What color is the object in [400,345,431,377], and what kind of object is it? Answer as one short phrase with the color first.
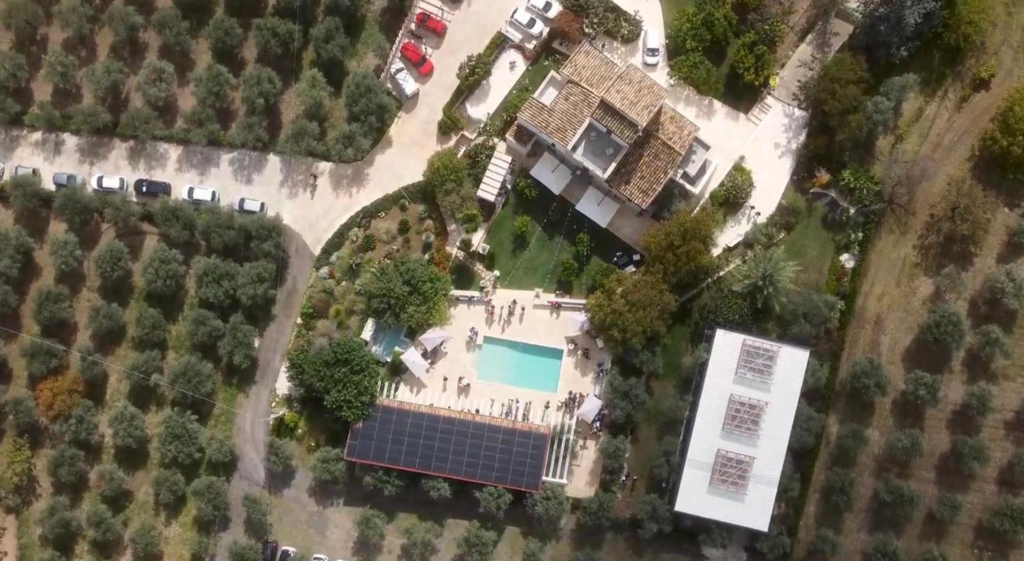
white umbrella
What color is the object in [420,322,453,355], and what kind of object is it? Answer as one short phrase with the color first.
white umbrella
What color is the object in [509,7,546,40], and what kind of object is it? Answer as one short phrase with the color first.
white car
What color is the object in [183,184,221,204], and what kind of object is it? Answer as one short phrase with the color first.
white car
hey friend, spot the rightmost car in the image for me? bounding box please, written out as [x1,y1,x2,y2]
[642,27,662,67]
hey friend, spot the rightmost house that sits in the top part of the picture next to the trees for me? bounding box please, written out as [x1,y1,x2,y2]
[506,40,721,212]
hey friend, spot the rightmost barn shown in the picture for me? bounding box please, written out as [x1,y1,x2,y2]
[667,328,810,531]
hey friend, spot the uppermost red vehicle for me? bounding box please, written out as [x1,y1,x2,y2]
[414,11,449,38]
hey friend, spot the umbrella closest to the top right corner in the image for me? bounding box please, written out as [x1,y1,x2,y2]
[575,185,619,228]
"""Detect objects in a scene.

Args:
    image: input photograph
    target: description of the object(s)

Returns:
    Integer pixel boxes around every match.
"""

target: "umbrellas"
[529,151,572,195]
[575,185,619,228]
[400,345,431,377]
[564,312,591,336]
[420,322,453,355]
[575,392,604,425]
